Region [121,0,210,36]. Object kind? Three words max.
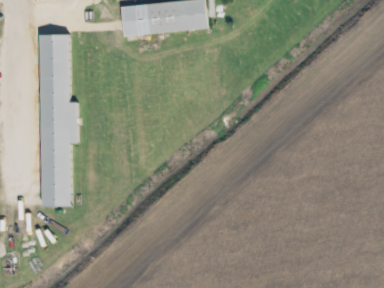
barn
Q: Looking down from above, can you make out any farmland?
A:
Yes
